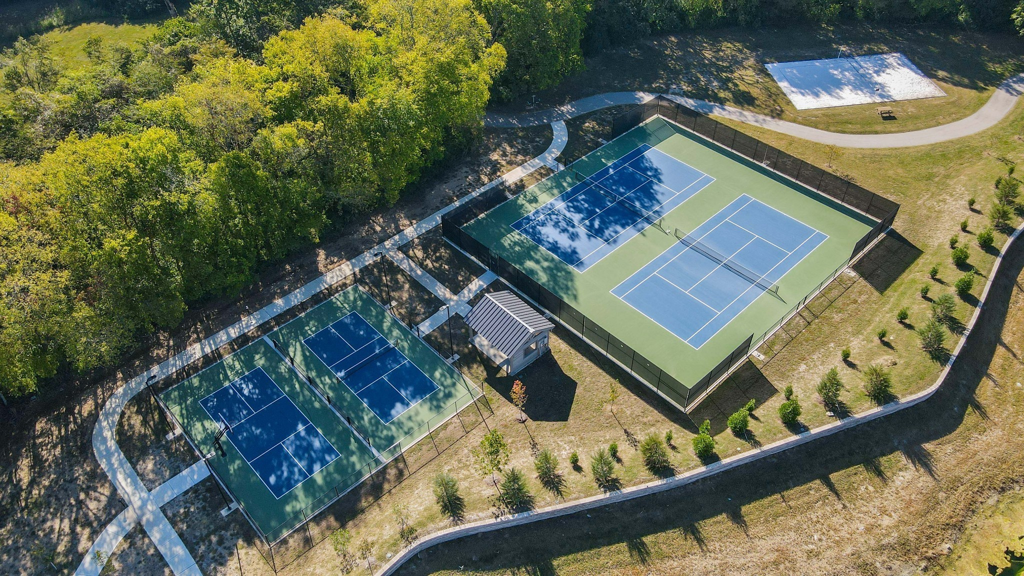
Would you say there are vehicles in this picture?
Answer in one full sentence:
No, the photo shows no vehicle.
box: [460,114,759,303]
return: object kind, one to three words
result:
tennis court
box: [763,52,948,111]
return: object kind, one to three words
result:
sports court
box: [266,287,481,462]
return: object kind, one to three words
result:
sports court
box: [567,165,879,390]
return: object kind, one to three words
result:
tennis court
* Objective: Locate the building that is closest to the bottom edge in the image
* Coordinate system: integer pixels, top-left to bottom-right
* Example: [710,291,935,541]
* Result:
[463,290,556,376]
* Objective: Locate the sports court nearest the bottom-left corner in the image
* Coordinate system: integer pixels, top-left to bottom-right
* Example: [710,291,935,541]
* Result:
[161,338,383,545]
